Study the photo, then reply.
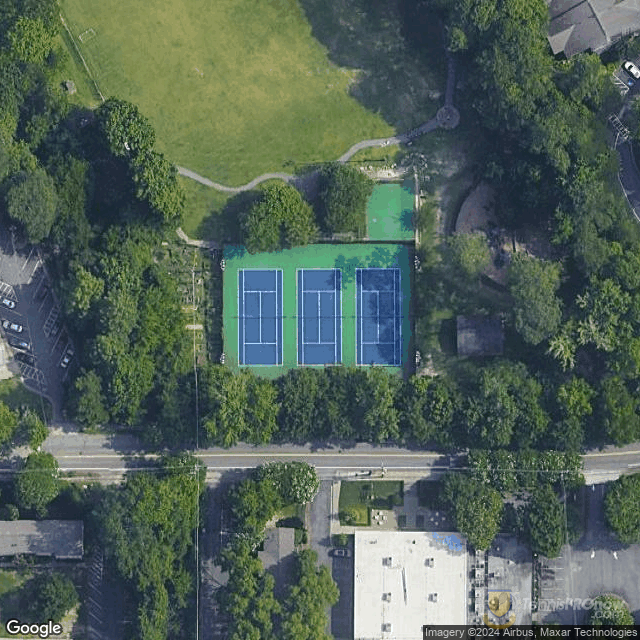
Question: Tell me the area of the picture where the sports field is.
top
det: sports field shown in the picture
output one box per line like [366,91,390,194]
[63,0,456,184]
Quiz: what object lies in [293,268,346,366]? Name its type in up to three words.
tennis court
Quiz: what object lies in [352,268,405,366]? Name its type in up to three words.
tennis court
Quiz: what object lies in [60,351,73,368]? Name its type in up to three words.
vehicle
